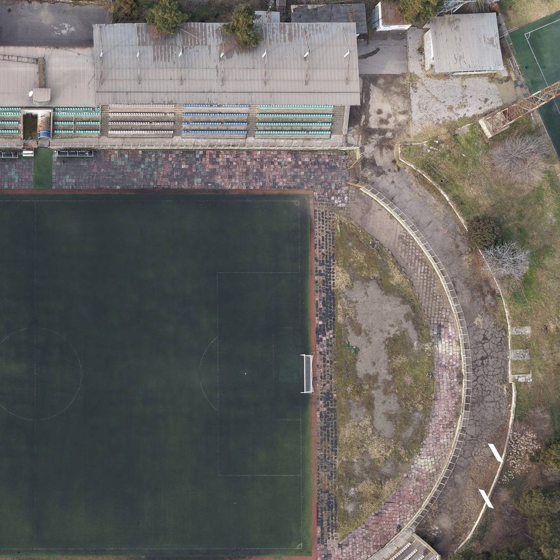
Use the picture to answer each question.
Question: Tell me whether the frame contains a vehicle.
No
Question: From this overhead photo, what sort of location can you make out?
sports ground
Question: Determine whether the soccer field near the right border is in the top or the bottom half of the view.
top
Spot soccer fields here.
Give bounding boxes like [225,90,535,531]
[0,189,318,560]
[507,7,560,158]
